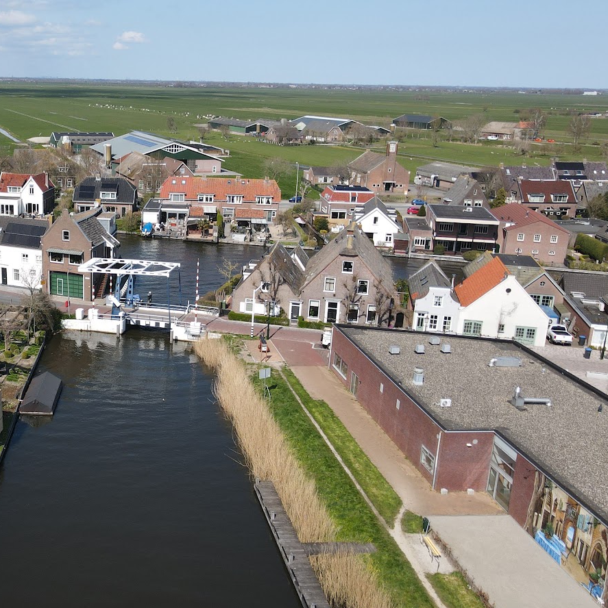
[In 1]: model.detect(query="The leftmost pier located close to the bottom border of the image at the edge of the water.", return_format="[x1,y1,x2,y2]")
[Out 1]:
[253,478,334,608]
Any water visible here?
Yes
